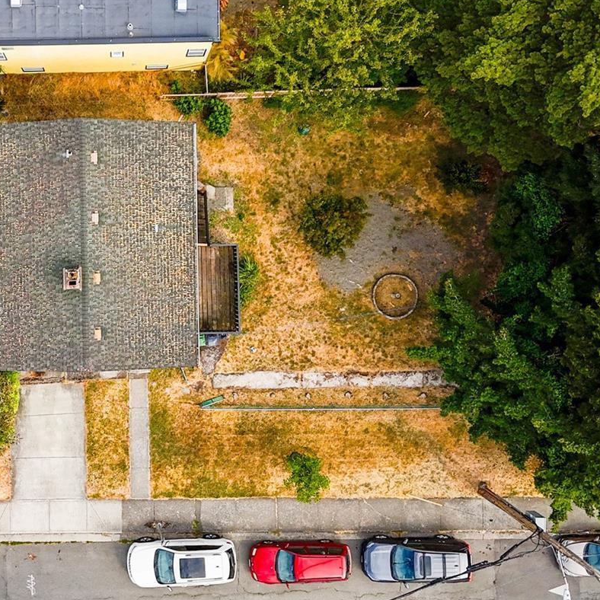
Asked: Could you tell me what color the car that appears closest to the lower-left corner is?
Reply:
white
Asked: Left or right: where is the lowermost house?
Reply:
left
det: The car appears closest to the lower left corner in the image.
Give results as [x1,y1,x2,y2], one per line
[127,535,233,590]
